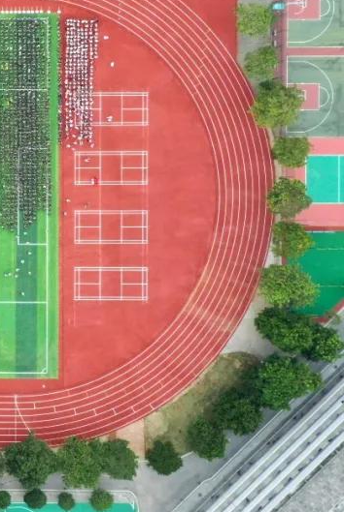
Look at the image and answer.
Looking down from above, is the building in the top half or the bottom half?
bottom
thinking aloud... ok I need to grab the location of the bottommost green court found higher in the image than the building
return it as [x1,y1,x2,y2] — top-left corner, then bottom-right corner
[276,226,344,323]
